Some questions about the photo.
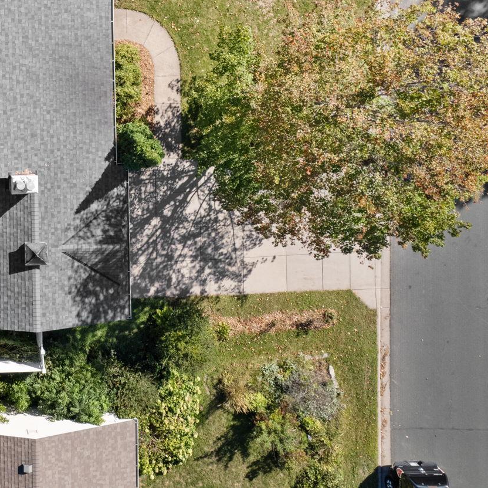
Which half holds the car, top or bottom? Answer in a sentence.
It is in the bottom half that the car appears.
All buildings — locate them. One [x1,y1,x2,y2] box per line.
[0,0,134,332]
[0,407,141,488]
